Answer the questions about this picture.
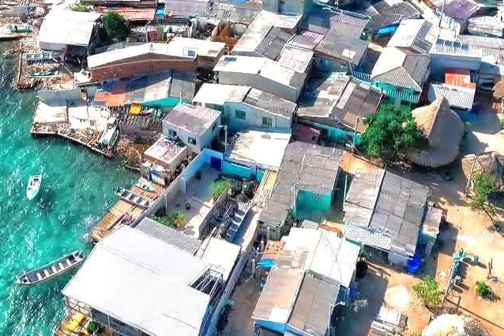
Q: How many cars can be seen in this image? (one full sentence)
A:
The photo contains no cars.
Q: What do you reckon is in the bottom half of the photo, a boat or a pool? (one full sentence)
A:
You can see a boat in the bottom half of the photo.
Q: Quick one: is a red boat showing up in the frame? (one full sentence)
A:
No, I find no red boat anywhere in the image.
